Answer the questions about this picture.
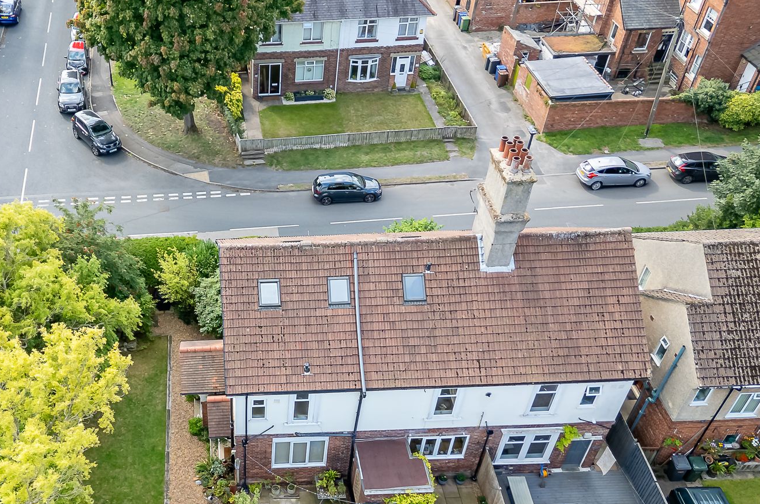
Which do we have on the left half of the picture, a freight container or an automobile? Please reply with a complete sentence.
Looking on the left half of the picture, you will find an automobile.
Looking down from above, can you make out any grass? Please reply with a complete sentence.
Yes, there is grass in the image.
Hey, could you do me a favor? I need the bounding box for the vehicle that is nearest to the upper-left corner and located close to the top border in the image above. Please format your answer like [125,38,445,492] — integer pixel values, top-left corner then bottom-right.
[0,0,28,23]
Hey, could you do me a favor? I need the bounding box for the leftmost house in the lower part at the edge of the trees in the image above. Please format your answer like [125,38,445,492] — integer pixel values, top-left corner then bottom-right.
[179,135,650,504]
